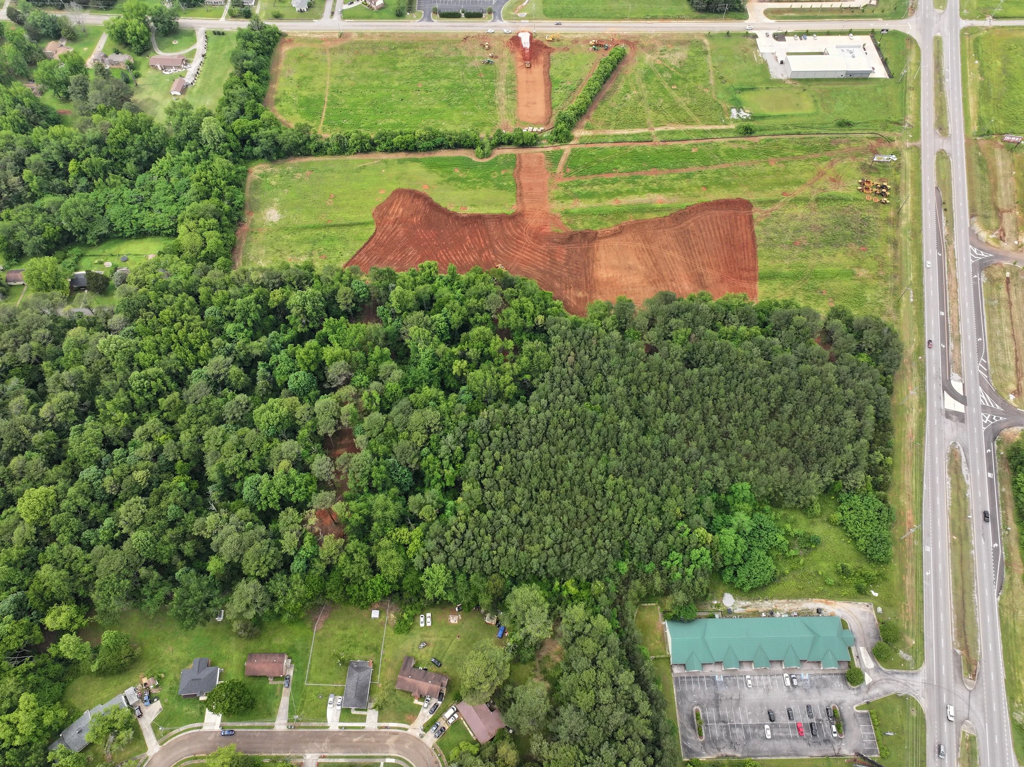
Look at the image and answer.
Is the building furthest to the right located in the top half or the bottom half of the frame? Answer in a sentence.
It is in the top half that the building furthest to the right appears.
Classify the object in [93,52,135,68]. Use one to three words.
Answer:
house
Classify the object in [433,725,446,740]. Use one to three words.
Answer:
vehicle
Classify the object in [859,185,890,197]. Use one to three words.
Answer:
vehicle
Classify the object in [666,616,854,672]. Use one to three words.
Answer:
building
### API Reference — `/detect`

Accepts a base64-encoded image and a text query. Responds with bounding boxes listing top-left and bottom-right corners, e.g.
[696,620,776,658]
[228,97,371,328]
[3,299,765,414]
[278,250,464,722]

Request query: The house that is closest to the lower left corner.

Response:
[48,695,129,755]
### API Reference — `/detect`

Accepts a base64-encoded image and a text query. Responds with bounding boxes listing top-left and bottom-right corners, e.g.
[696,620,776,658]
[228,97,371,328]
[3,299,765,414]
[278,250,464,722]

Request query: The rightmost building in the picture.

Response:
[783,45,873,78]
